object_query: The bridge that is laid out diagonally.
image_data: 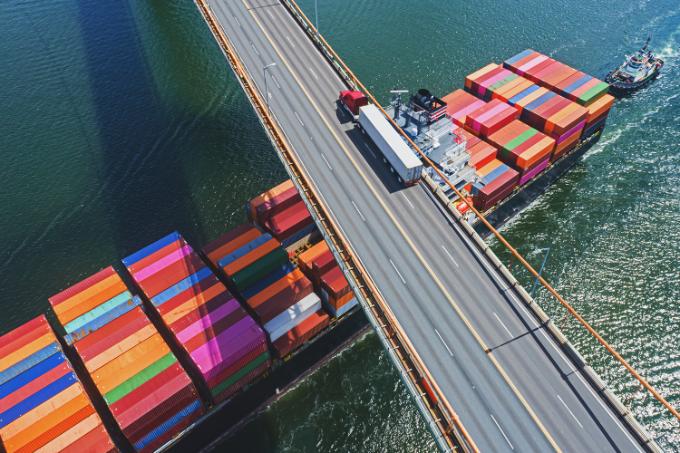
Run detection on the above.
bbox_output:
[197,0,680,453]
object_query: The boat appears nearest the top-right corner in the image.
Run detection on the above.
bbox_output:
[609,38,669,93]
